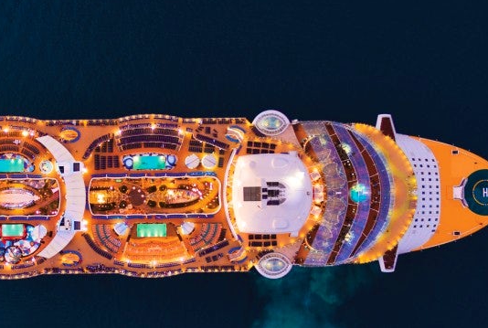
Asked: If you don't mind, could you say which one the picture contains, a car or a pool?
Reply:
pool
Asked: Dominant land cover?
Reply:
water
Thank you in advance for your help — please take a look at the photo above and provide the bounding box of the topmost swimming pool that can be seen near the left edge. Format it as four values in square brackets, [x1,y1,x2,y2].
[0,153,36,175]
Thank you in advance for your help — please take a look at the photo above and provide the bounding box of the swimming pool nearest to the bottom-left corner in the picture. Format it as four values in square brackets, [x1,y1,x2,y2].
[2,224,24,238]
